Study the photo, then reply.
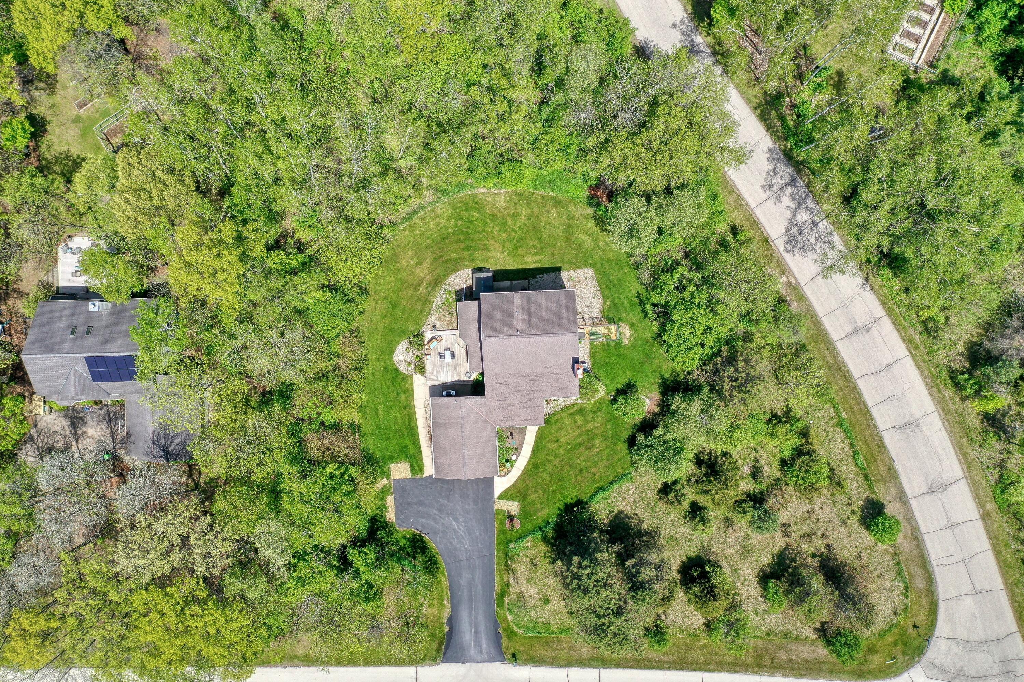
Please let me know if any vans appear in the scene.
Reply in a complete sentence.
No, I can't see a single van in this photo.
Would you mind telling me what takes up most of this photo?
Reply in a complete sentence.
The bulk of the photo consists of trees.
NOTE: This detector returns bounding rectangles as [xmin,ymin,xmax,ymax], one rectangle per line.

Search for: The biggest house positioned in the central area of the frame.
[429,288,584,481]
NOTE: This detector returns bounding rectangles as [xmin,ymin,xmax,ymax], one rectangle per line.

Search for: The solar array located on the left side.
[85,356,154,382]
